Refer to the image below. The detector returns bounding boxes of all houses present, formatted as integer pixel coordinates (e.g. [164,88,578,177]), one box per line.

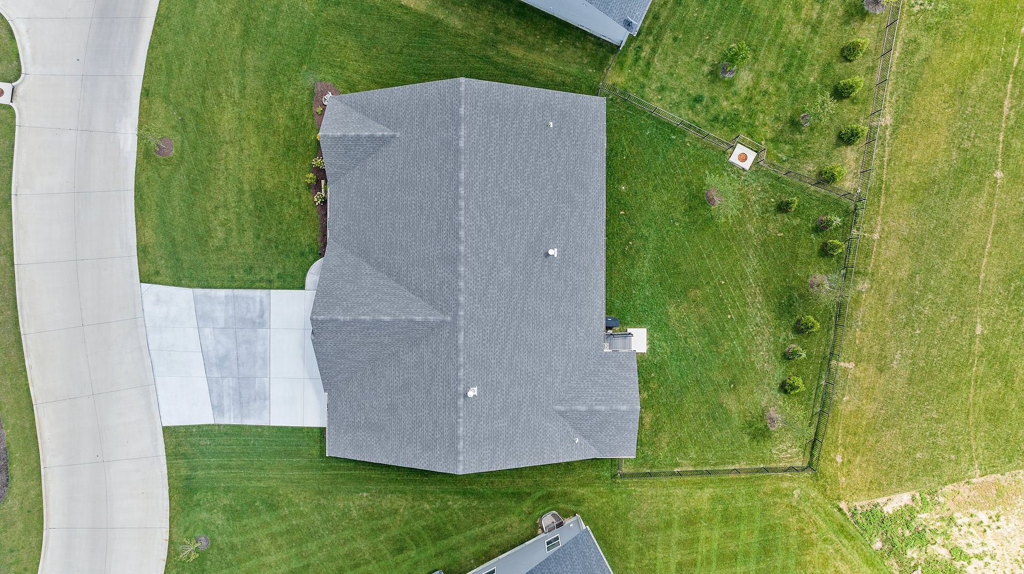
[465,515,614,574]
[310,78,640,474]
[523,0,651,46]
